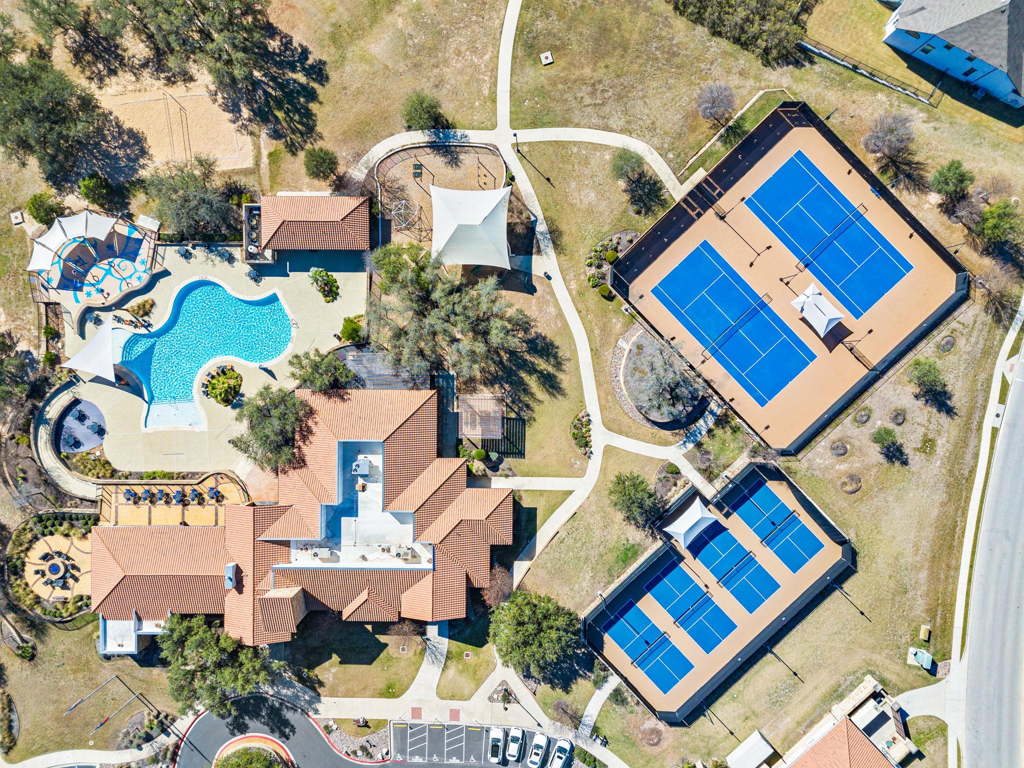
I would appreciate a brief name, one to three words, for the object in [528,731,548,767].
car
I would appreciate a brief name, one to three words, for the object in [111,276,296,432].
swimming pool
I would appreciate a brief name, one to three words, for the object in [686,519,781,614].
sports court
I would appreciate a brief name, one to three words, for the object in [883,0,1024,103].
house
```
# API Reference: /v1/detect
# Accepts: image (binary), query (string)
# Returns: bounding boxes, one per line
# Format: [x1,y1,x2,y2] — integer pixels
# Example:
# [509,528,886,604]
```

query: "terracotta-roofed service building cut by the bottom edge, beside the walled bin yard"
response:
[770,711,900,768]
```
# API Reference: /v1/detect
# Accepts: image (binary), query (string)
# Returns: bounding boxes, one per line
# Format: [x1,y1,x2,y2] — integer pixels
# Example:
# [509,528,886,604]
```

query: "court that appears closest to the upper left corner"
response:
[98,81,253,172]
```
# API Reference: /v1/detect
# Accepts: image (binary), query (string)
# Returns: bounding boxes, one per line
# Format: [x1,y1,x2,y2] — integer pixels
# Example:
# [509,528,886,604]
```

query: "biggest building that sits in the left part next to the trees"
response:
[90,389,513,654]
